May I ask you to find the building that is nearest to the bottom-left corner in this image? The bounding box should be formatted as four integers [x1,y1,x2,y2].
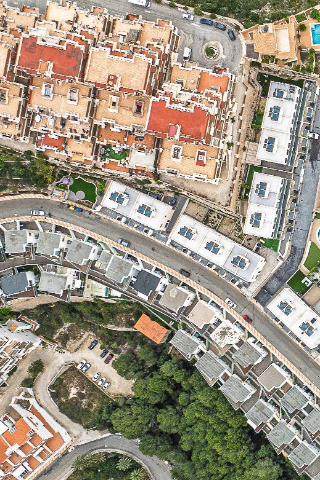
[0,400,75,480]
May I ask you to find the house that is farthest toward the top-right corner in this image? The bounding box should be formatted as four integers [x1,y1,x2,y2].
[252,23,302,61]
